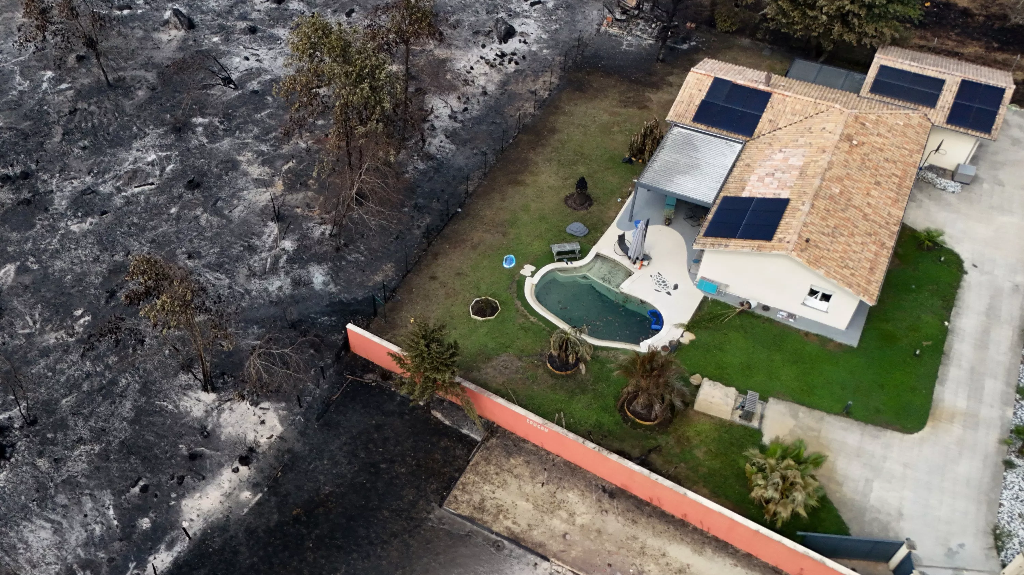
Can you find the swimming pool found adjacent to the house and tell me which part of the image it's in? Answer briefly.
center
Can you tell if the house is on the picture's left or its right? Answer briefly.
right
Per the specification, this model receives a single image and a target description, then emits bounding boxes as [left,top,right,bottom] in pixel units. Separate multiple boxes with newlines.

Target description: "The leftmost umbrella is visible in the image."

[626,218,652,260]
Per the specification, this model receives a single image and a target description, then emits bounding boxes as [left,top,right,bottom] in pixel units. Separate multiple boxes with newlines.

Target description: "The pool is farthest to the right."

[524,245,665,353]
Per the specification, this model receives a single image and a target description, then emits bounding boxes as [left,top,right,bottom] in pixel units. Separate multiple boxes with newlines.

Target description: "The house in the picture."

[666,43,1014,330]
